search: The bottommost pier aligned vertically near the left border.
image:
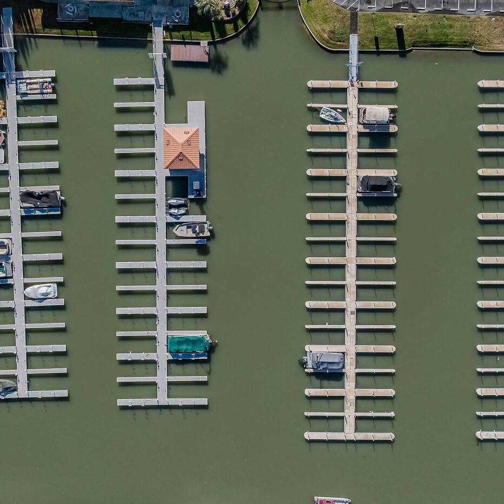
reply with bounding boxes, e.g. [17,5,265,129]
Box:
[0,69,68,402]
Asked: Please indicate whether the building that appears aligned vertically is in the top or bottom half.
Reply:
top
